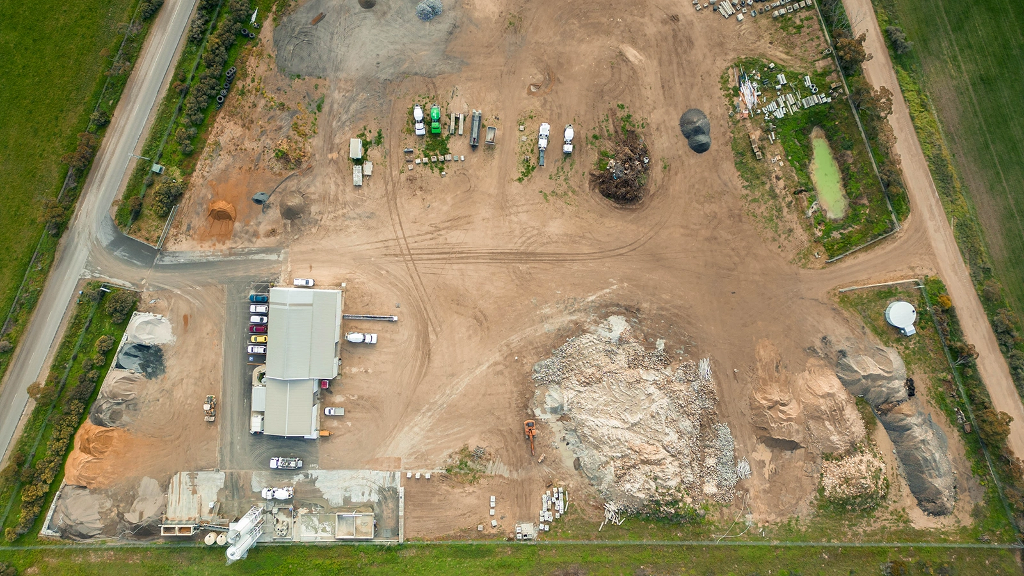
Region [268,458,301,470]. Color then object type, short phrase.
white vehicle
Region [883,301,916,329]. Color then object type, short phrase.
white water tank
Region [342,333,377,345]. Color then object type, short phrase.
white vehicle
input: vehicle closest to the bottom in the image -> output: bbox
[259,488,292,502]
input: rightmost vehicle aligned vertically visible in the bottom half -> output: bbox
[524,419,536,456]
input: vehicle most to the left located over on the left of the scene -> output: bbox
[202,394,216,420]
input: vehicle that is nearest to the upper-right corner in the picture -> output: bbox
[562,120,574,154]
